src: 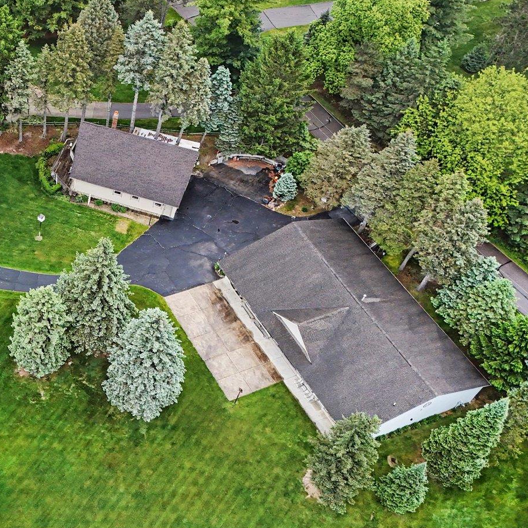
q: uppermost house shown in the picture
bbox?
[70,99,198,222]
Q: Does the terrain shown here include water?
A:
No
